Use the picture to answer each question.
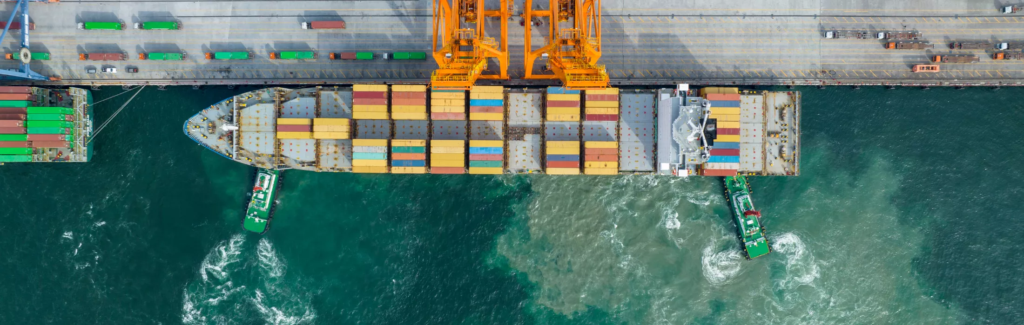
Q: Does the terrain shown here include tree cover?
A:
No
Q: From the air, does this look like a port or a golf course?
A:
port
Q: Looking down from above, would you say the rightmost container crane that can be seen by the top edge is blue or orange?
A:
orange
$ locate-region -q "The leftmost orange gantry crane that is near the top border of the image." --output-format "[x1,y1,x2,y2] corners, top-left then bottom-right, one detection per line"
[428,0,516,93]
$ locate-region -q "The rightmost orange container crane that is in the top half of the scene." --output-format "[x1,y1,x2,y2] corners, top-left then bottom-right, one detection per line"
[517,0,609,93]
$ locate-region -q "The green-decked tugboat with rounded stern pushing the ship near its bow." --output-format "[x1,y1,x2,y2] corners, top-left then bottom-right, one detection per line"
[244,168,282,235]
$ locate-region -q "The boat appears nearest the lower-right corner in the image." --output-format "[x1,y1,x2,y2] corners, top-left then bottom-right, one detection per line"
[724,175,770,260]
